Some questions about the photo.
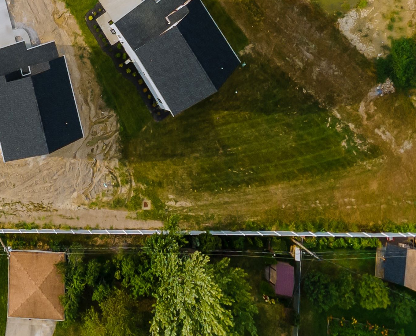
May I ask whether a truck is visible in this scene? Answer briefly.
No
